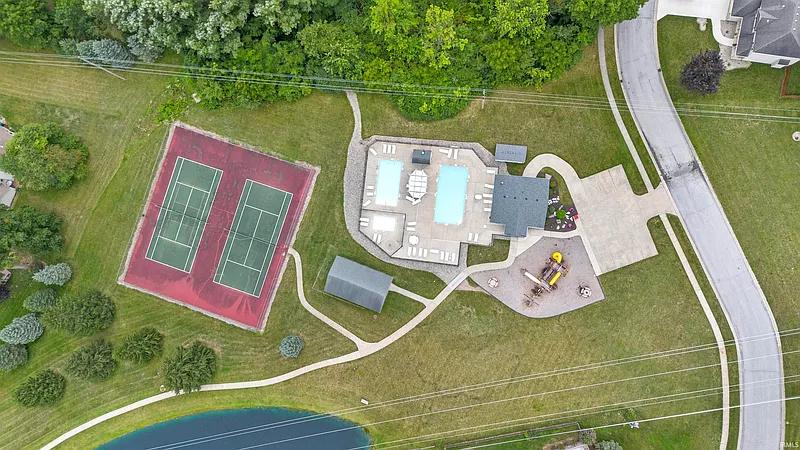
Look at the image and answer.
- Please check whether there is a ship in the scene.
No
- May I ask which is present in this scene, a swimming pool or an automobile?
swimming pool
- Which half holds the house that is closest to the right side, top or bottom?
top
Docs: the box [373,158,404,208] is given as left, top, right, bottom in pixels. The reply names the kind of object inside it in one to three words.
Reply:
swimming pool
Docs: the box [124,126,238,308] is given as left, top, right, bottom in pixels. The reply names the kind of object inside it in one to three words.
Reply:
tennis court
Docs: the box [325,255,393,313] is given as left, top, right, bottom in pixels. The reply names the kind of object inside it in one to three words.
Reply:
building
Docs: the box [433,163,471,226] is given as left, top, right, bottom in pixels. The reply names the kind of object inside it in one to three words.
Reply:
swimming pool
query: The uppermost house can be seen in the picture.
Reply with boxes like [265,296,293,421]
[725,0,800,69]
